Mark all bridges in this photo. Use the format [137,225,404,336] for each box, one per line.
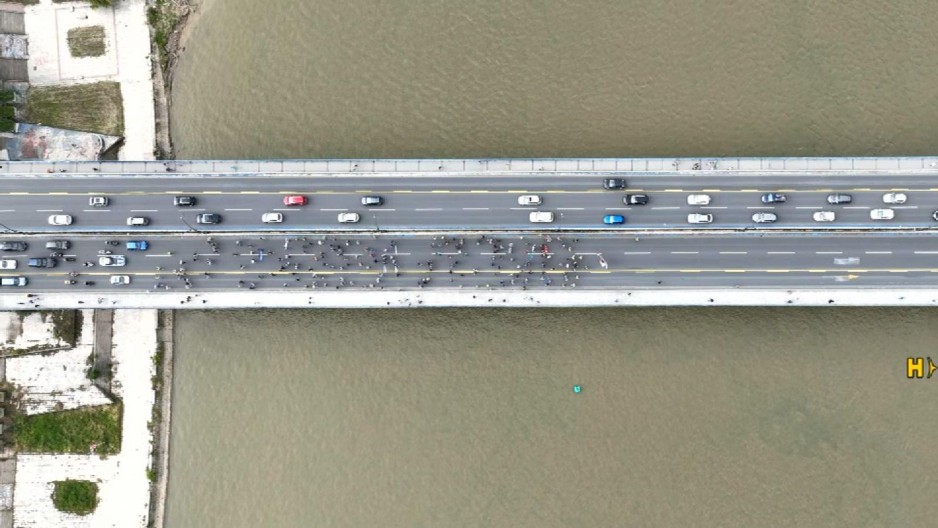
[0,156,938,310]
